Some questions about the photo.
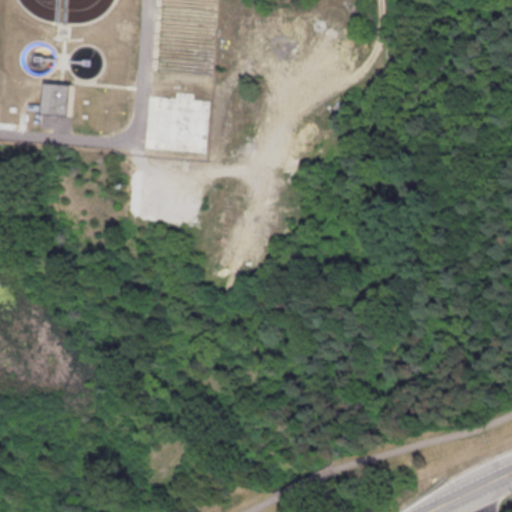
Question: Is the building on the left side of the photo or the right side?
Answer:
left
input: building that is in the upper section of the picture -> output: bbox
[40,84,68,117]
